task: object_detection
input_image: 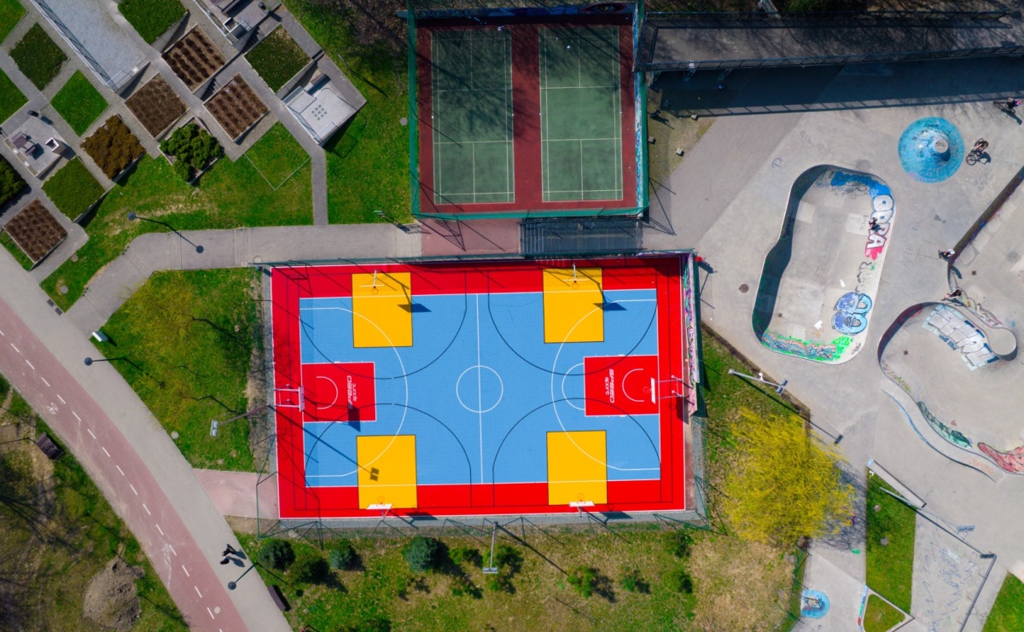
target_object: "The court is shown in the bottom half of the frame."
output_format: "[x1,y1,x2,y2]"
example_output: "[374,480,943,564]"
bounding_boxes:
[271,256,685,519]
